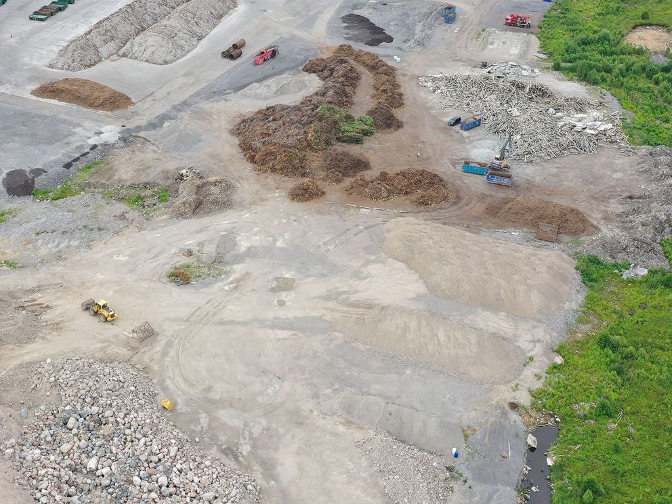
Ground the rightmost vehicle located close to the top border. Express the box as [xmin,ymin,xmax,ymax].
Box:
[504,14,533,26]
